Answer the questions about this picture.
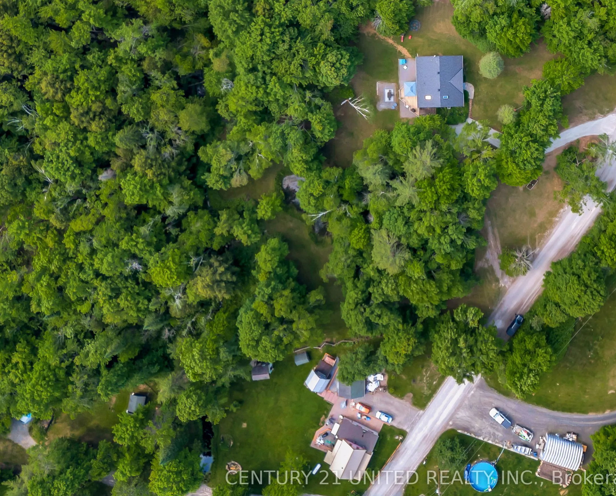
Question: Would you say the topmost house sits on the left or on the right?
right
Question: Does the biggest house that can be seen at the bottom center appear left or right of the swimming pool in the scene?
on the left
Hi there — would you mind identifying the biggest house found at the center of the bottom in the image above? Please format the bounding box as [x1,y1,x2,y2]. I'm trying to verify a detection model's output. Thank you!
[324,414,381,482]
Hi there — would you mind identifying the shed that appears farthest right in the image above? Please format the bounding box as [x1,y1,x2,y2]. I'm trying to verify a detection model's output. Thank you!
[540,434,583,471]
